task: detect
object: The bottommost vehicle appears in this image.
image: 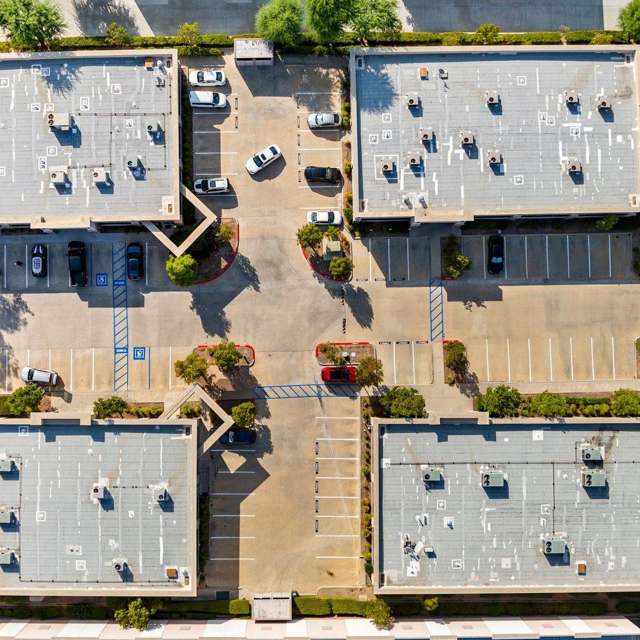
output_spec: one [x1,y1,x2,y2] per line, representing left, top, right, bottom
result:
[219,428,255,445]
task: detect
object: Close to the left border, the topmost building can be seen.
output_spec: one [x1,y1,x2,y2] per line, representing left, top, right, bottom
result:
[0,49,217,256]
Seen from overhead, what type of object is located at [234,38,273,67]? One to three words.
building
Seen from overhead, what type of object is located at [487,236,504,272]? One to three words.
car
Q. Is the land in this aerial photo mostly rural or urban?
urban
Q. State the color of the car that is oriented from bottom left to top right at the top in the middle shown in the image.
white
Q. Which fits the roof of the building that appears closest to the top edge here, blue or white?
white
